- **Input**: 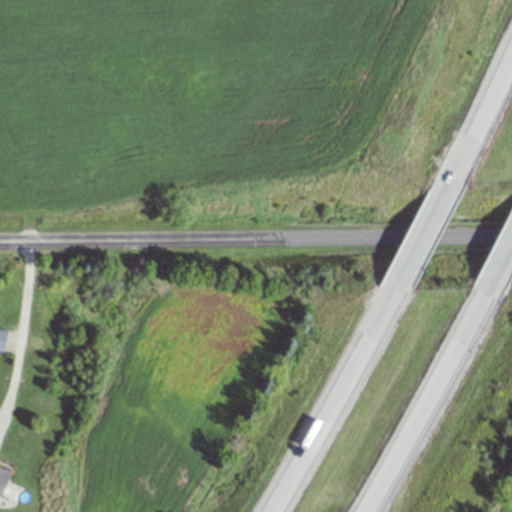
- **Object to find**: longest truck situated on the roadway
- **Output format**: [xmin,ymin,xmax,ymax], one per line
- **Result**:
[298,418,324,456]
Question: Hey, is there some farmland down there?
Yes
